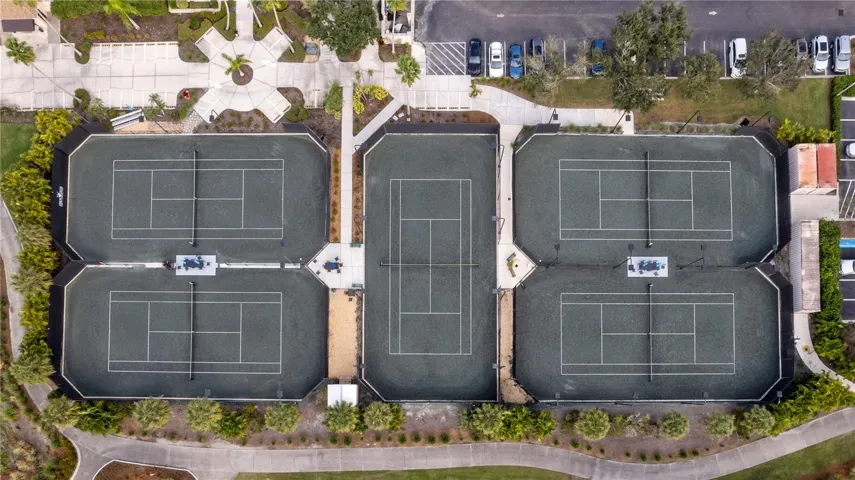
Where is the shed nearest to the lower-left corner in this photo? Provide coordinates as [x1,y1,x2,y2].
[326,384,359,409]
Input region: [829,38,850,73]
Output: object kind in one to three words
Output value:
car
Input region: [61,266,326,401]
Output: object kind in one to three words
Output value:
tennis court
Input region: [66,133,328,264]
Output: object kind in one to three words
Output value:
tennis court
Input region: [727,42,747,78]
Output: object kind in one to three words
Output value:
car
